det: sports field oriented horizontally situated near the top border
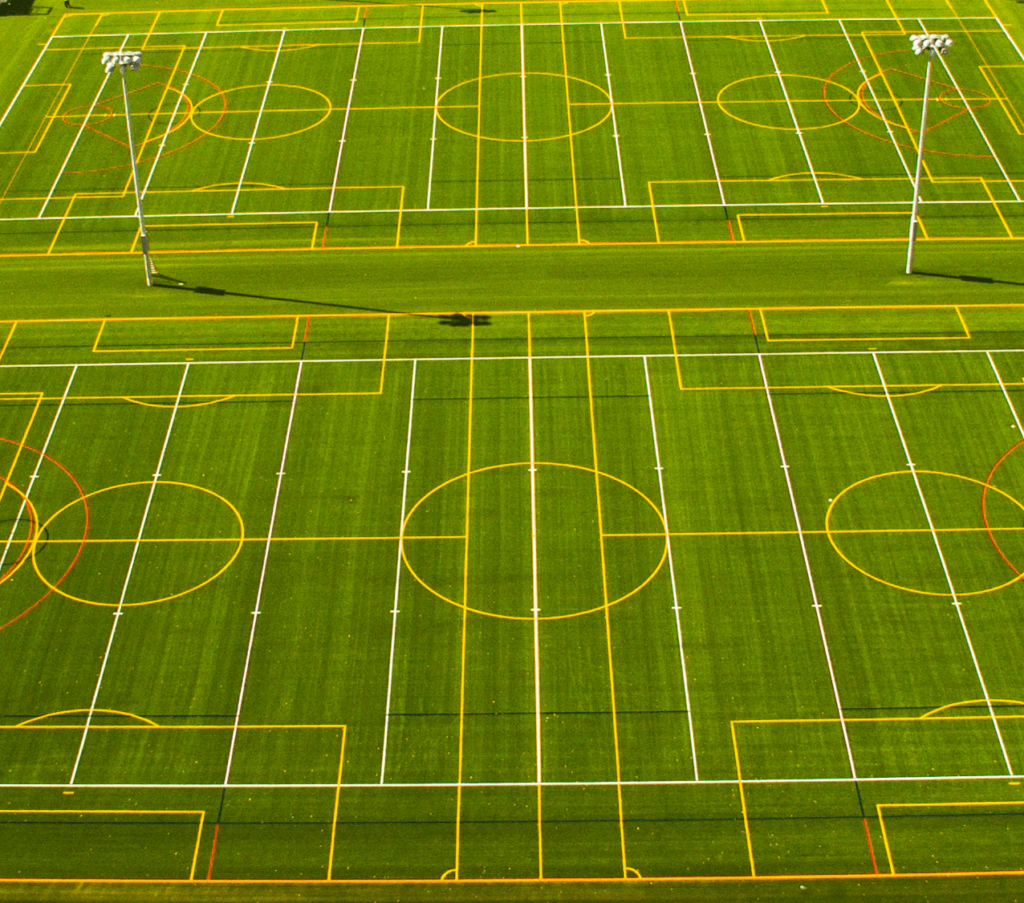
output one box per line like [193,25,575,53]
[0,0,1024,257]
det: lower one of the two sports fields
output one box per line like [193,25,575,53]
[0,304,1024,883]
